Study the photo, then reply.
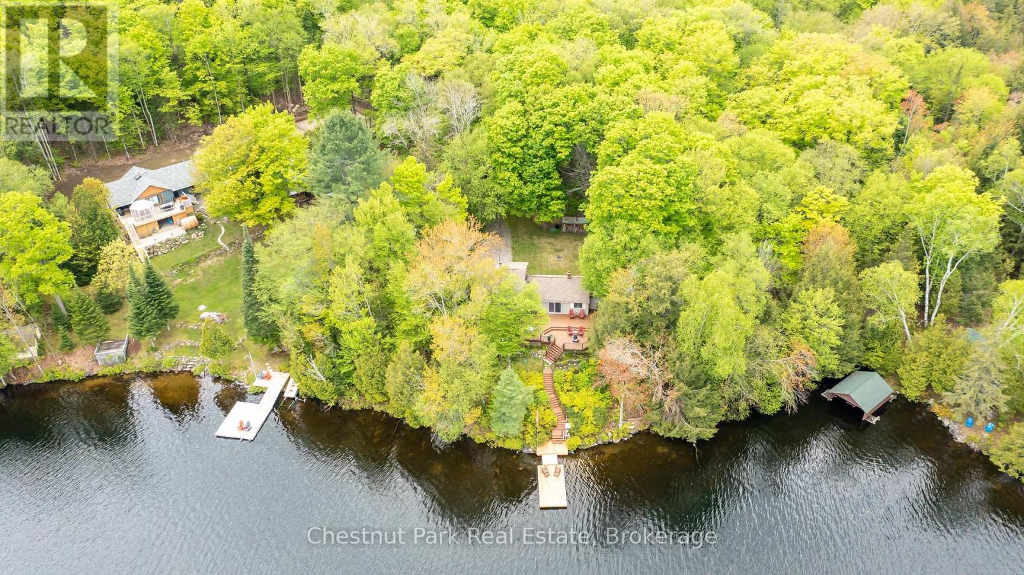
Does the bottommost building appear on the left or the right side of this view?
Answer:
right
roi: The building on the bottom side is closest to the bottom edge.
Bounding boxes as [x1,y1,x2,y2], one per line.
[821,372,894,441]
